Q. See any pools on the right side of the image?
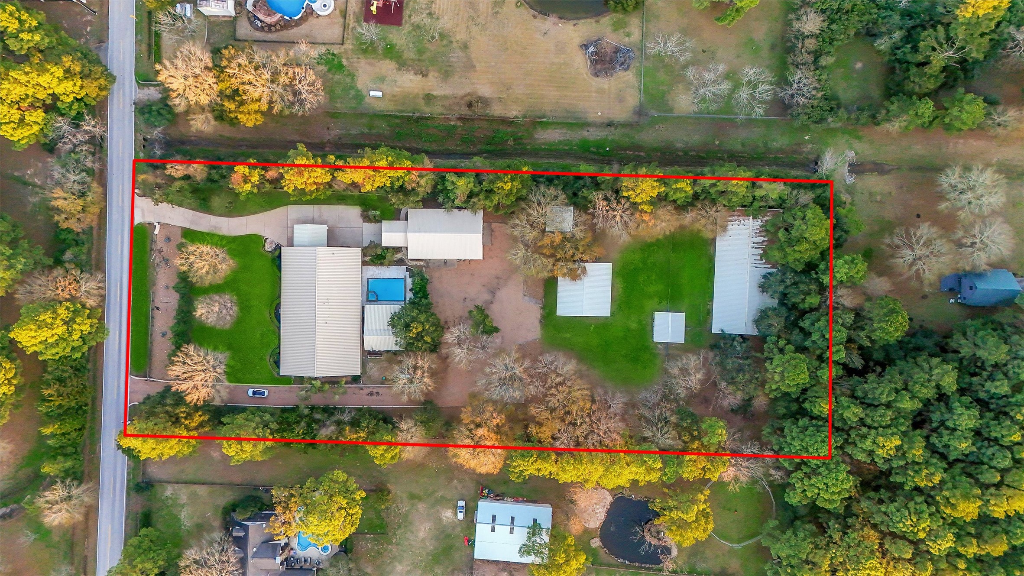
No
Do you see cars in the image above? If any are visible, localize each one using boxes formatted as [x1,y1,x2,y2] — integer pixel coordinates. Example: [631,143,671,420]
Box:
[456,501,466,522]
[247,388,267,398]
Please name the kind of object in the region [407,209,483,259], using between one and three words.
house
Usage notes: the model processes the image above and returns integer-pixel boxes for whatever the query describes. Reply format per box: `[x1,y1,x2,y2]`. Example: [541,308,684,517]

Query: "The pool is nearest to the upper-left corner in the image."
[246,0,309,24]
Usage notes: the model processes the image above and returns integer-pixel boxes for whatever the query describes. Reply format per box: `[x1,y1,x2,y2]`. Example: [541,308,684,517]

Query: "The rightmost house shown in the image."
[941,272,1020,305]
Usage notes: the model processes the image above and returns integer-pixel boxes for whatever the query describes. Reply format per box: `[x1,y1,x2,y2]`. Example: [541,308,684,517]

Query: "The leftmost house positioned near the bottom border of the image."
[229,513,315,576]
